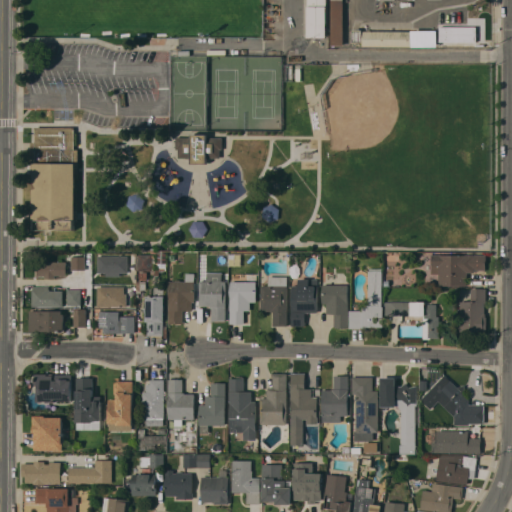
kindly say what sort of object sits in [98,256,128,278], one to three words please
house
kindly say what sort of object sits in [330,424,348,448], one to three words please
swimming pool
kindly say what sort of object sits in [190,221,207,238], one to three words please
gazebo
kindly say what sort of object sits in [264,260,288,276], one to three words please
swimming pool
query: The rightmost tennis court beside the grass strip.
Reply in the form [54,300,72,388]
[247,57,282,130]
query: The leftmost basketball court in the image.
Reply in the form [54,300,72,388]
[172,56,208,130]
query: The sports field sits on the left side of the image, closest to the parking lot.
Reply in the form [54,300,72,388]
[24,0,262,46]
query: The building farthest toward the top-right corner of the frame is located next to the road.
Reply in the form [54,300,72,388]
[438,26,476,46]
